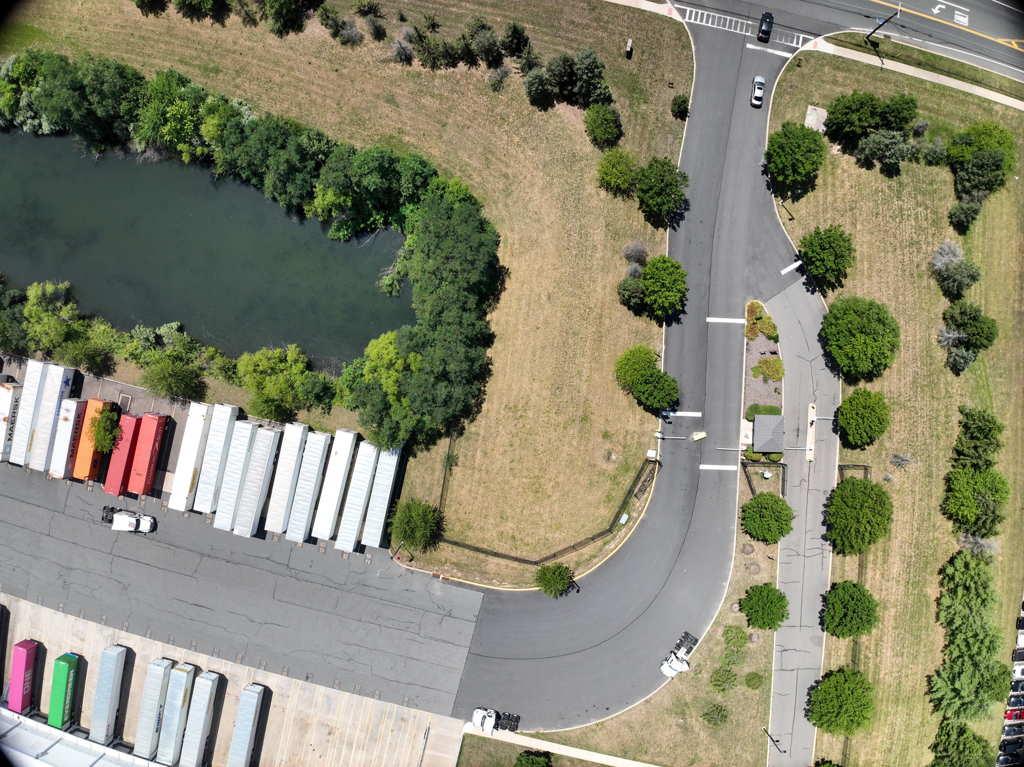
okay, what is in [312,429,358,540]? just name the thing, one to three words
trailer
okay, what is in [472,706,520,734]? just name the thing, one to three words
truck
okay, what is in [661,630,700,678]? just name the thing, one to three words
truck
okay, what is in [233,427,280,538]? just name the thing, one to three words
trailer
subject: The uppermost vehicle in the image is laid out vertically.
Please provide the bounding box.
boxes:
[756,12,775,45]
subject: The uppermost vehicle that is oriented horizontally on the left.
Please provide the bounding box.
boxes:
[101,504,158,533]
